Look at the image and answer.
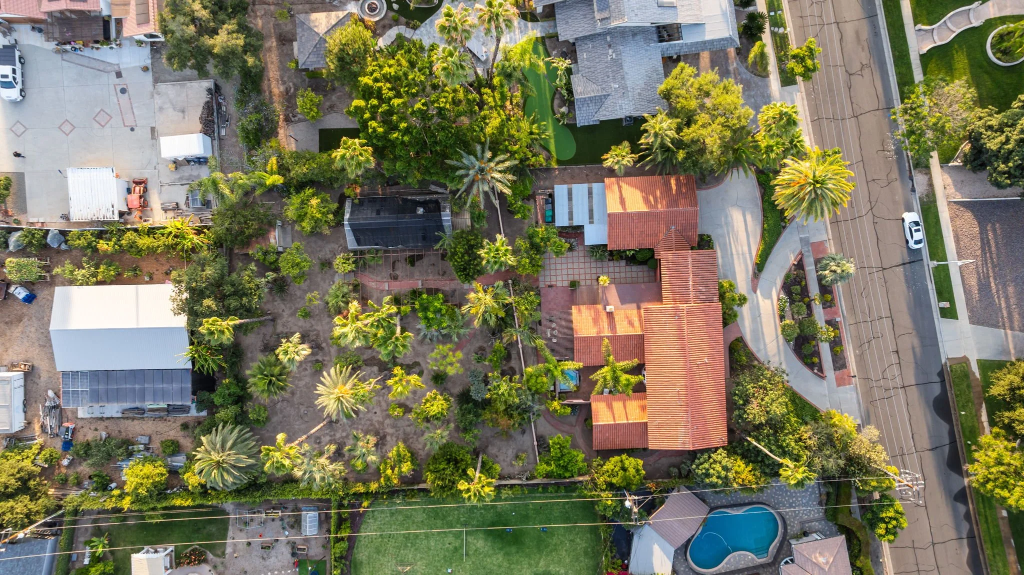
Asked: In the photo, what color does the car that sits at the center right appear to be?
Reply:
white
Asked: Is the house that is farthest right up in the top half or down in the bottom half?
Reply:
bottom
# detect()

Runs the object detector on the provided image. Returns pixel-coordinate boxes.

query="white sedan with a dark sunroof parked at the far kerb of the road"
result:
[902,211,925,250]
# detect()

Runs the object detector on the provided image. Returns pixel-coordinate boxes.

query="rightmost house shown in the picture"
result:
[772,532,851,575]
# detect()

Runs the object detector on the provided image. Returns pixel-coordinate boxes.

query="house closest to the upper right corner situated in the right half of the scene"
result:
[533,0,741,127]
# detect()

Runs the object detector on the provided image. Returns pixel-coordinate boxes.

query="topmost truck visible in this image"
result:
[0,44,25,104]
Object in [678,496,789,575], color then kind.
blue swimming pool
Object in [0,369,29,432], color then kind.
white trailer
